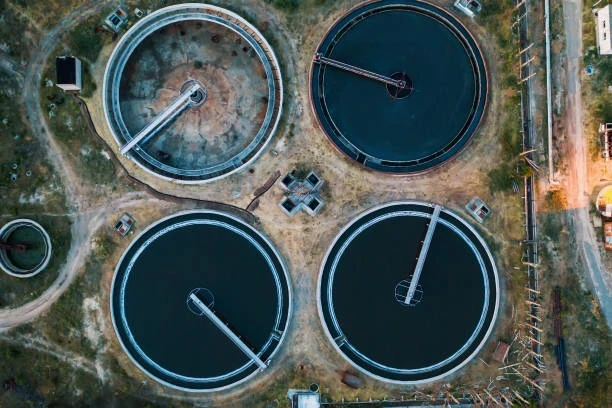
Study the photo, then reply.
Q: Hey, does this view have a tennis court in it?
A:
No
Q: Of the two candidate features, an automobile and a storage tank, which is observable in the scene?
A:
storage tank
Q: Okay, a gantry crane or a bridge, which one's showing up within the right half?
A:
bridge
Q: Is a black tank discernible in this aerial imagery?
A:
Yes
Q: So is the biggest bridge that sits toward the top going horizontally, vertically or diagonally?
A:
diagonally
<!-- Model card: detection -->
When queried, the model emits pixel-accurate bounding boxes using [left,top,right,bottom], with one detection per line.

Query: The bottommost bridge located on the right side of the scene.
[404,204,441,305]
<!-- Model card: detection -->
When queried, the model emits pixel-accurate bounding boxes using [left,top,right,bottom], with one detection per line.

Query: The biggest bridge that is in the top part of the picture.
[118,82,201,156]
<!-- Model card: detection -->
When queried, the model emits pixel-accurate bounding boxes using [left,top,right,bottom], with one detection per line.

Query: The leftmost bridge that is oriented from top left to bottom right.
[189,293,269,370]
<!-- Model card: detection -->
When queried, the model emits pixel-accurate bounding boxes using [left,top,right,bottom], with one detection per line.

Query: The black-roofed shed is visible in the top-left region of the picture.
[56,57,82,92]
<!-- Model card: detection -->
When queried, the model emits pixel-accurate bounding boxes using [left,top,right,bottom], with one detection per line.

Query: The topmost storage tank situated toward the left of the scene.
[103,4,283,183]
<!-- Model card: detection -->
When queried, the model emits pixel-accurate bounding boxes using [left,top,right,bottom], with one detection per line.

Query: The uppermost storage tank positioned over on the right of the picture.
[309,0,488,176]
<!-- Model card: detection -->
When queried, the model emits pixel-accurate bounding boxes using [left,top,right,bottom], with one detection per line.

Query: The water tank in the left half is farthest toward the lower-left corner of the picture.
[0,219,53,278]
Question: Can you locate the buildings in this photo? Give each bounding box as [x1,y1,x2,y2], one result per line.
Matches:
[290,386,322,408]
[595,4,612,53]
[56,57,82,92]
